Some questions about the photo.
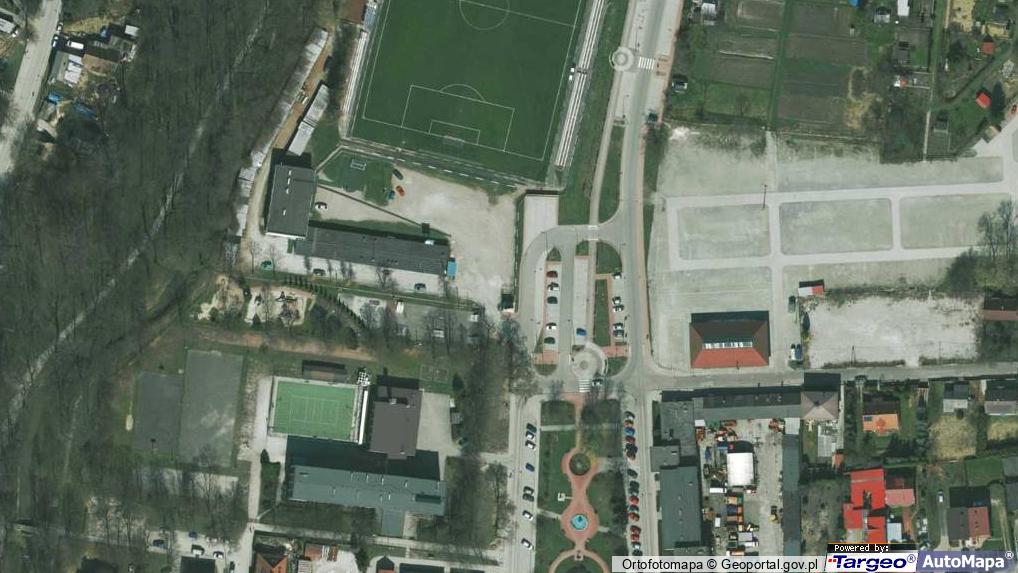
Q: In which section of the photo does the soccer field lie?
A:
top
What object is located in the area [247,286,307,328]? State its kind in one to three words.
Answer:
playground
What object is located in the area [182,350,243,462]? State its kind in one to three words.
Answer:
sports court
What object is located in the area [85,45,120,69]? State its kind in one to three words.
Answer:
house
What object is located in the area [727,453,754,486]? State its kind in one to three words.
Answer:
building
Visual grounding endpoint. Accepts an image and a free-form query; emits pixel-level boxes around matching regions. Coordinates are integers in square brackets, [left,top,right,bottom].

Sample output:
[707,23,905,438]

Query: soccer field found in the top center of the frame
[351,0,588,180]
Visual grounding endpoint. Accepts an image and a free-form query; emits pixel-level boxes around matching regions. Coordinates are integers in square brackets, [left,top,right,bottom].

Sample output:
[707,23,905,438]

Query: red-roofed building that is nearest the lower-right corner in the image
[968,507,990,539]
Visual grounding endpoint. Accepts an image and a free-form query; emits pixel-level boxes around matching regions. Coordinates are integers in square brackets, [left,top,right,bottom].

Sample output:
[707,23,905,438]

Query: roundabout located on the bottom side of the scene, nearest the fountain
[572,343,606,380]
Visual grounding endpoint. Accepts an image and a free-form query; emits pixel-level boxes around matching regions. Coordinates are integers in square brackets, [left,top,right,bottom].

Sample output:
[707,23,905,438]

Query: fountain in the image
[571,514,589,532]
